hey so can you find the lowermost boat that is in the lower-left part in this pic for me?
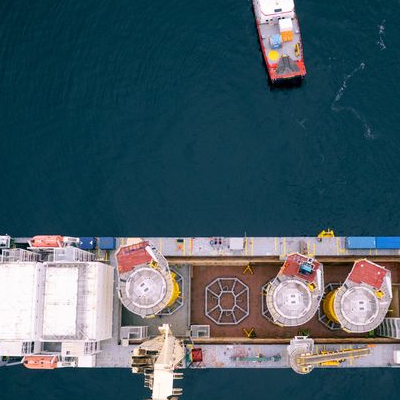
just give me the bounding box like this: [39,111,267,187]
[18,352,57,369]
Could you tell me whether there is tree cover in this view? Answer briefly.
No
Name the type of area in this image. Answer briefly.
port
